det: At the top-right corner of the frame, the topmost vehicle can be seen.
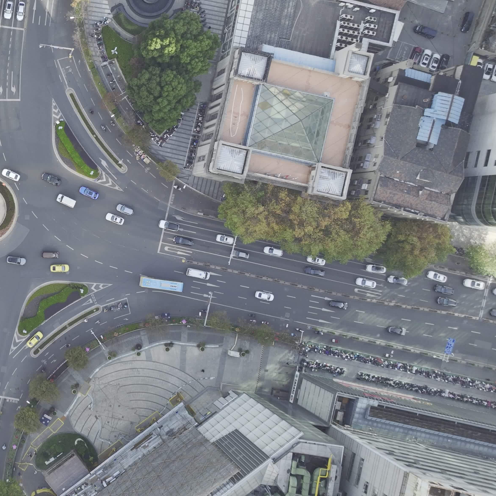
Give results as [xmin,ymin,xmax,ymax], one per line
[413,24,442,39]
